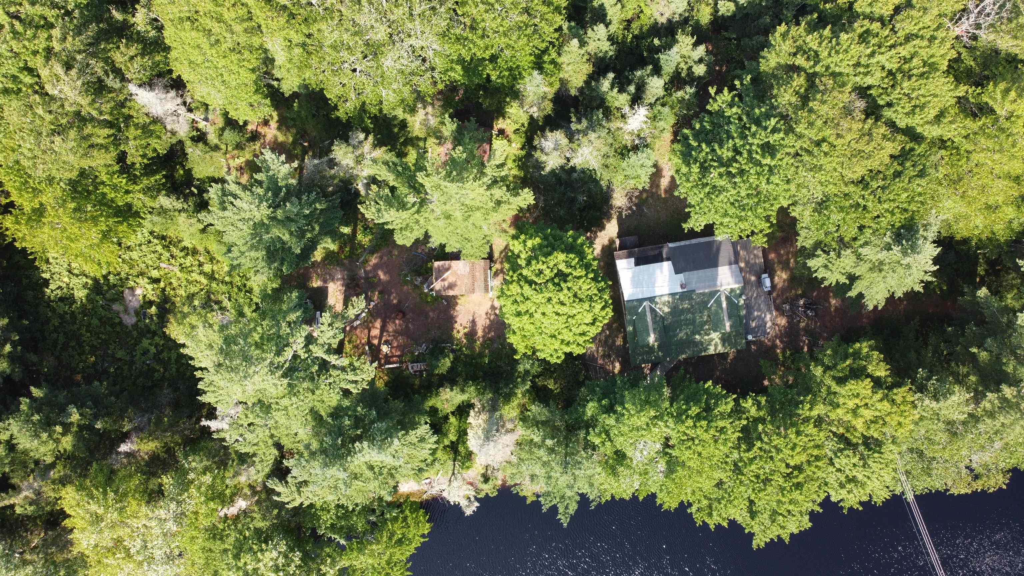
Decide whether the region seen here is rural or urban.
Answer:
rural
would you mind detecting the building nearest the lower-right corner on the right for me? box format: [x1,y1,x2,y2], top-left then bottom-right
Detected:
[615,234,781,367]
